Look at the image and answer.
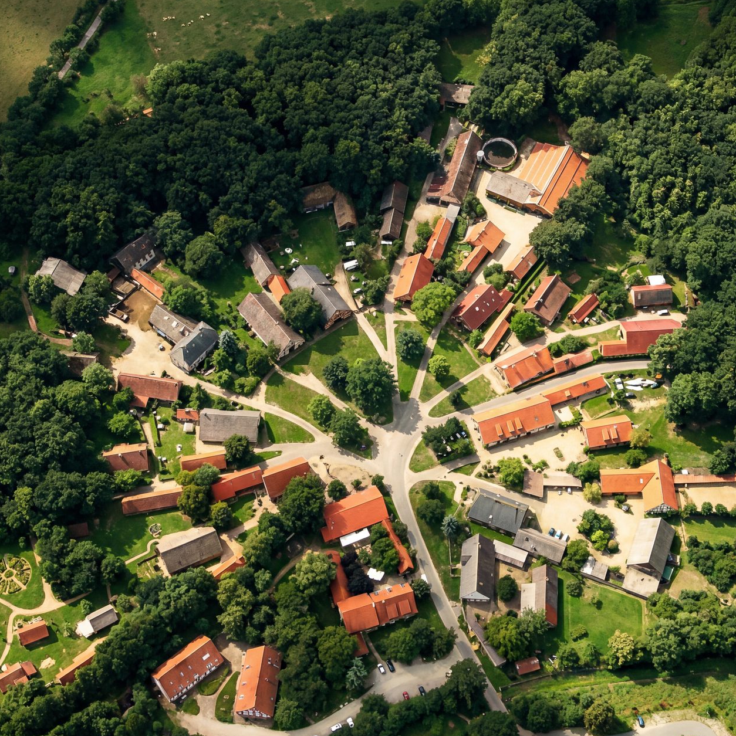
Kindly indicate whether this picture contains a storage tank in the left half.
No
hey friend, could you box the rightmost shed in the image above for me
[673,474,736,486]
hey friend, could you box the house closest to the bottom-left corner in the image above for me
[0,661,37,694]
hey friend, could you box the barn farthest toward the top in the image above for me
[440,84,470,108]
